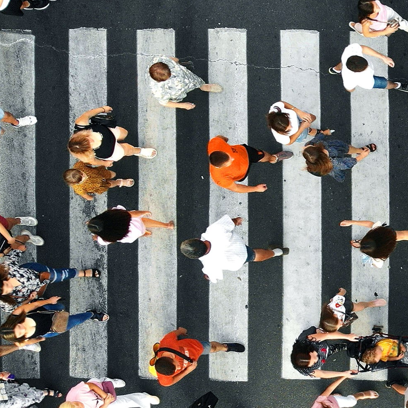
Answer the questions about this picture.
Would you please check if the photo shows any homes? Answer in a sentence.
No, I can see no home in this picture.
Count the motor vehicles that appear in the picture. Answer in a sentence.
The photo contains no motor vehicles.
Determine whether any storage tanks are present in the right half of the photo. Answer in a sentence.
No, I can find no storage tank in the right half of the photo.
